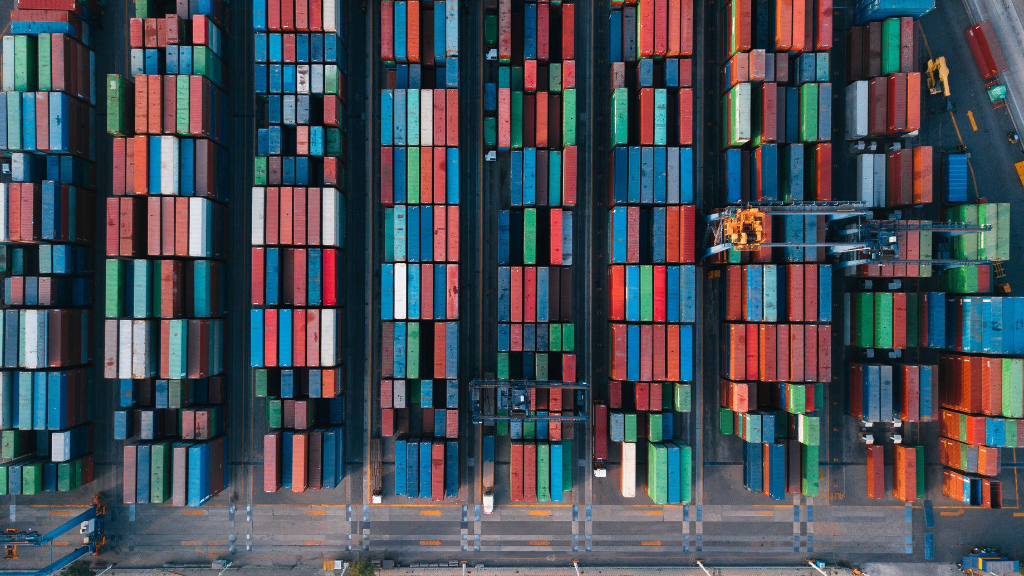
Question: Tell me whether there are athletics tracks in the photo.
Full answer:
No, there appears to be no athletics track in this shot.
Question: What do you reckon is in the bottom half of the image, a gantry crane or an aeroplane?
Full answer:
Looking in the bottom half of the image, you will find a gantry crane.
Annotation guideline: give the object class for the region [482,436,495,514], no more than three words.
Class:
vehicle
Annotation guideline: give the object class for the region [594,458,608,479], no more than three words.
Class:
vehicle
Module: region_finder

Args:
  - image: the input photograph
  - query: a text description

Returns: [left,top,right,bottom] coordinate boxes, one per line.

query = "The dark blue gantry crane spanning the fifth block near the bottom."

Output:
[467,359,592,424]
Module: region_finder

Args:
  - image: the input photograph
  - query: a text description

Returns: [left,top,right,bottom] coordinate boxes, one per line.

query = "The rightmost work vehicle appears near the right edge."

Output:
[1010,127,1022,143]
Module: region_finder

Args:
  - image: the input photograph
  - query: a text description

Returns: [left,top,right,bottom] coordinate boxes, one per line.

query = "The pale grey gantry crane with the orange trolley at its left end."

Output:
[702,197,866,263]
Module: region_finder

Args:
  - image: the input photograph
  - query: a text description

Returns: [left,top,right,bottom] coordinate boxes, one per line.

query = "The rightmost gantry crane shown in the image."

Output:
[834,220,992,278]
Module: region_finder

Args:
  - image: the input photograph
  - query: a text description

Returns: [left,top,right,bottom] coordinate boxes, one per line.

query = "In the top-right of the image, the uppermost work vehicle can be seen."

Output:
[925,54,960,110]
